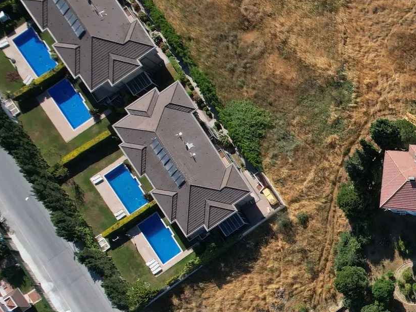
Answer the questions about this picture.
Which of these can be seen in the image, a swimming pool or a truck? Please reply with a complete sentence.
The image shows a swimming pool.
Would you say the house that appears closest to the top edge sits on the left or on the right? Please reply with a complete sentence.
The house that appears closest to the top edge sits on the left side.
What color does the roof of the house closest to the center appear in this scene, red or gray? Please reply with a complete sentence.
The color of the roof of the house closest to the center is gray.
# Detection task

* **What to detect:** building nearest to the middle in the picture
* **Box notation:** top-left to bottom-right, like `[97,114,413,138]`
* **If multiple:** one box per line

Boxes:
[110,80,261,241]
